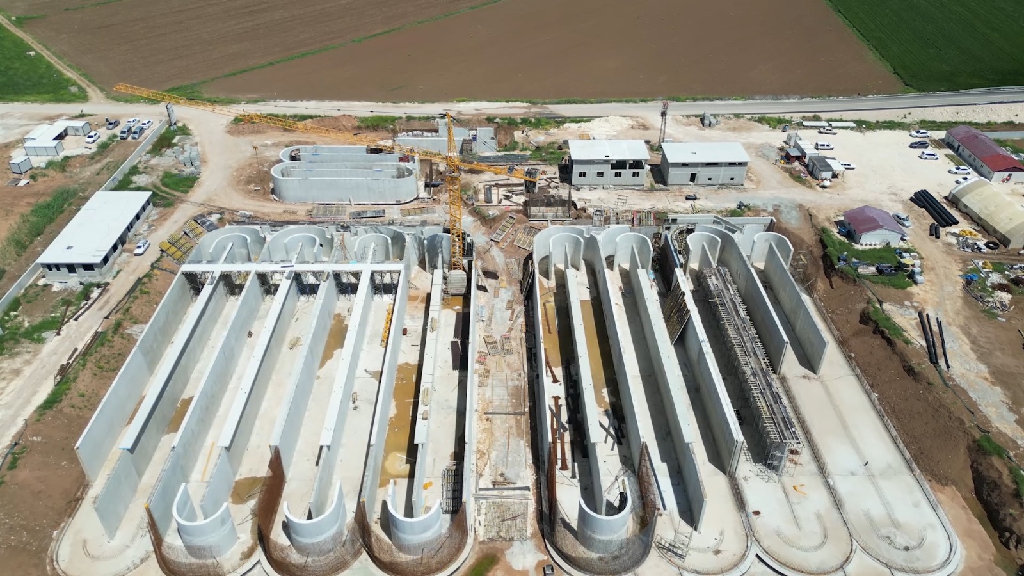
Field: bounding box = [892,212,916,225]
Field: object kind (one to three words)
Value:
vehicle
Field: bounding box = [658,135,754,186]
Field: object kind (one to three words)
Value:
building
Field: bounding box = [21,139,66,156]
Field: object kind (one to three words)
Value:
building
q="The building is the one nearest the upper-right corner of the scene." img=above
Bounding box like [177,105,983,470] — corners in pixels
[944,119,1024,182]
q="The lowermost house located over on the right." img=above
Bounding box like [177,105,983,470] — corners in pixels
[843,201,907,244]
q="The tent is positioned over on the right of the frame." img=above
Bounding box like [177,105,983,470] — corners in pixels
[949,172,1024,248]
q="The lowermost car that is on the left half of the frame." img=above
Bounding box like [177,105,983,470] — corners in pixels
[127,236,154,253]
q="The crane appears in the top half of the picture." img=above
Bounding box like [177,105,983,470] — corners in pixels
[116,85,541,303]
